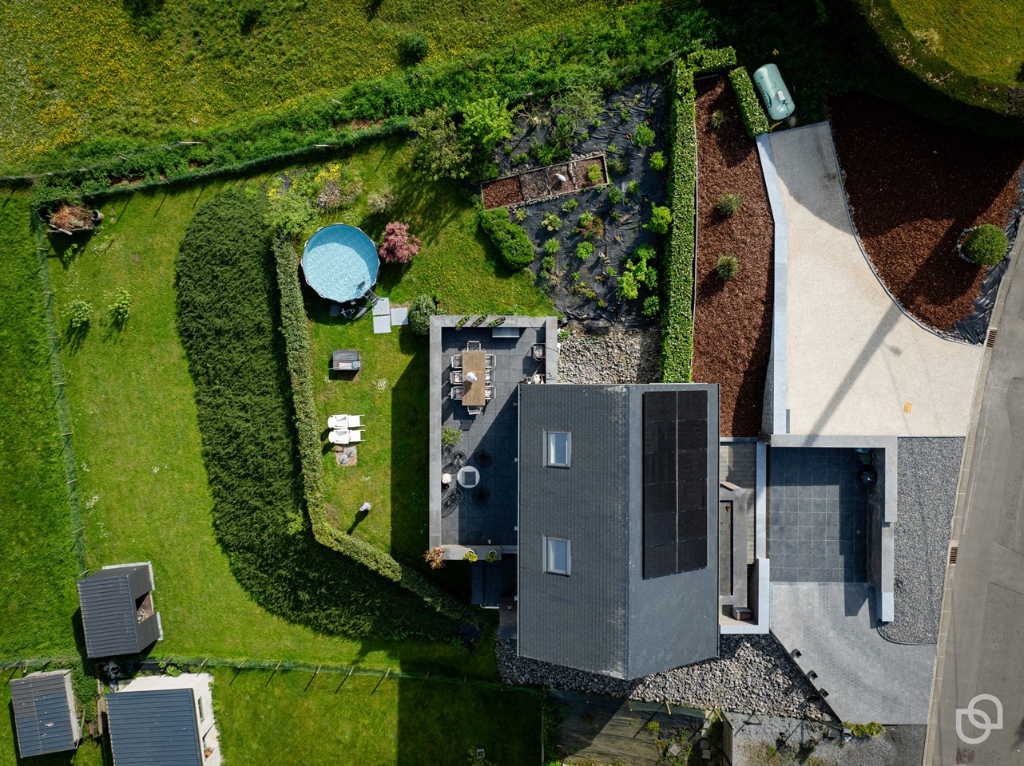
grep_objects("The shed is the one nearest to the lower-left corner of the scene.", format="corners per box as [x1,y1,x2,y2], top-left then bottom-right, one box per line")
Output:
[9,669,86,758]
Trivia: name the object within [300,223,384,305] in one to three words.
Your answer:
swimming pool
